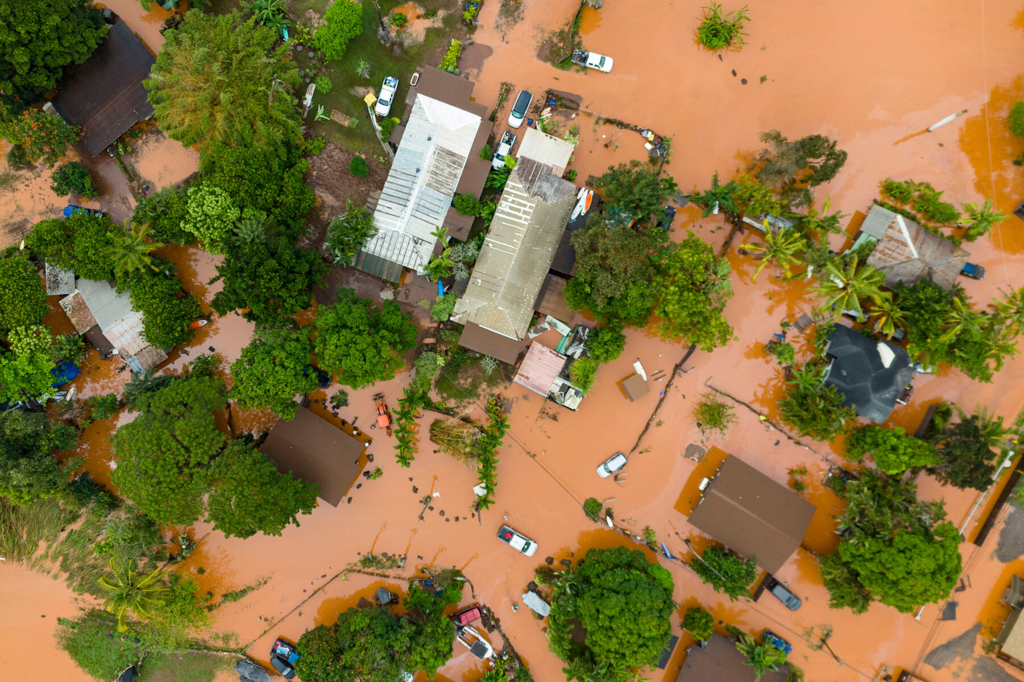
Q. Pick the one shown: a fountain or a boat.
boat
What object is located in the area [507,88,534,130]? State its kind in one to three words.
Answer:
vehicle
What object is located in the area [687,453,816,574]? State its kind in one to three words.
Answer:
house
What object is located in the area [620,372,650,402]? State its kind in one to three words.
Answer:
shed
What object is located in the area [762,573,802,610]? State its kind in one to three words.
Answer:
car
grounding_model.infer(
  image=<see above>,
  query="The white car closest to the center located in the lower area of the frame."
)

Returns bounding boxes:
[593,448,630,478]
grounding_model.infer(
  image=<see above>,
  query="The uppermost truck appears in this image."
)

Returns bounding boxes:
[569,49,613,75]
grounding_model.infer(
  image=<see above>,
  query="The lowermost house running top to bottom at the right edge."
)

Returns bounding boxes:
[988,575,1024,663]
